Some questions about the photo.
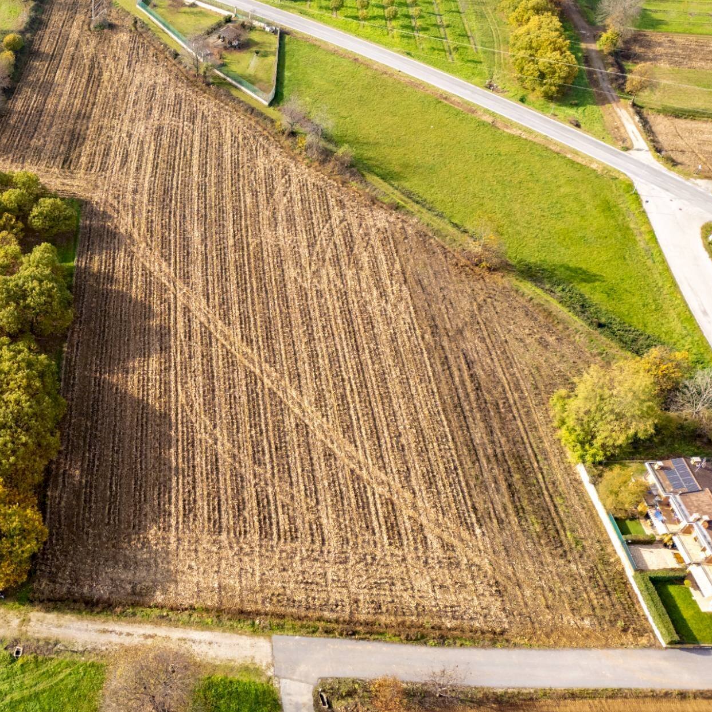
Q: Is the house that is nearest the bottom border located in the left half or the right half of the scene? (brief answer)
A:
right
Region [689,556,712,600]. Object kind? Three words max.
house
